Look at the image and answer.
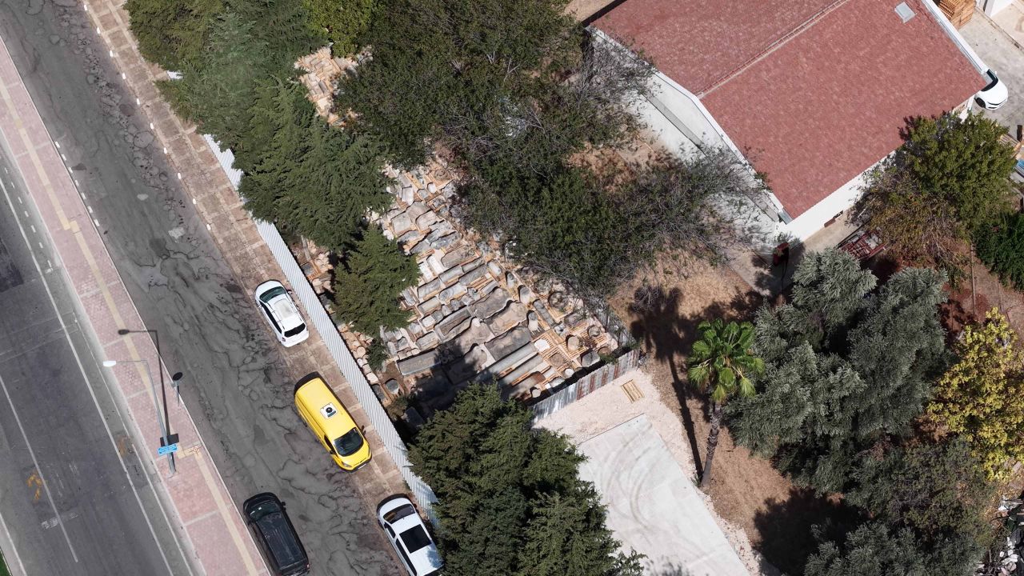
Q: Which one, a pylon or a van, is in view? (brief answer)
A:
van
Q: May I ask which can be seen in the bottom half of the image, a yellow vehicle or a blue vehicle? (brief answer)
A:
yellow vehicle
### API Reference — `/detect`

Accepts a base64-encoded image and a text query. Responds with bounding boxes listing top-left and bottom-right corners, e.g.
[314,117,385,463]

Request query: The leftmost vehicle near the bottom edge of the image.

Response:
[245,498,313,576]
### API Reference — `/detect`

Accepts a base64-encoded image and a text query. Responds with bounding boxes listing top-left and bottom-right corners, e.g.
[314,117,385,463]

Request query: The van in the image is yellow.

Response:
[295,374,367,470]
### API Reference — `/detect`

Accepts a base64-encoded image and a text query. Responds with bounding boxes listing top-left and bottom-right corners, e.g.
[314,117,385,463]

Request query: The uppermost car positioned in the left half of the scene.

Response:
[255,283,310,349]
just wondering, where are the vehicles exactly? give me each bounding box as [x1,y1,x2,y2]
[245,498,313,576]
[973,52,1010,109]
[255,283,310,349]
[295,374,367,470]
[377,496,441,576]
